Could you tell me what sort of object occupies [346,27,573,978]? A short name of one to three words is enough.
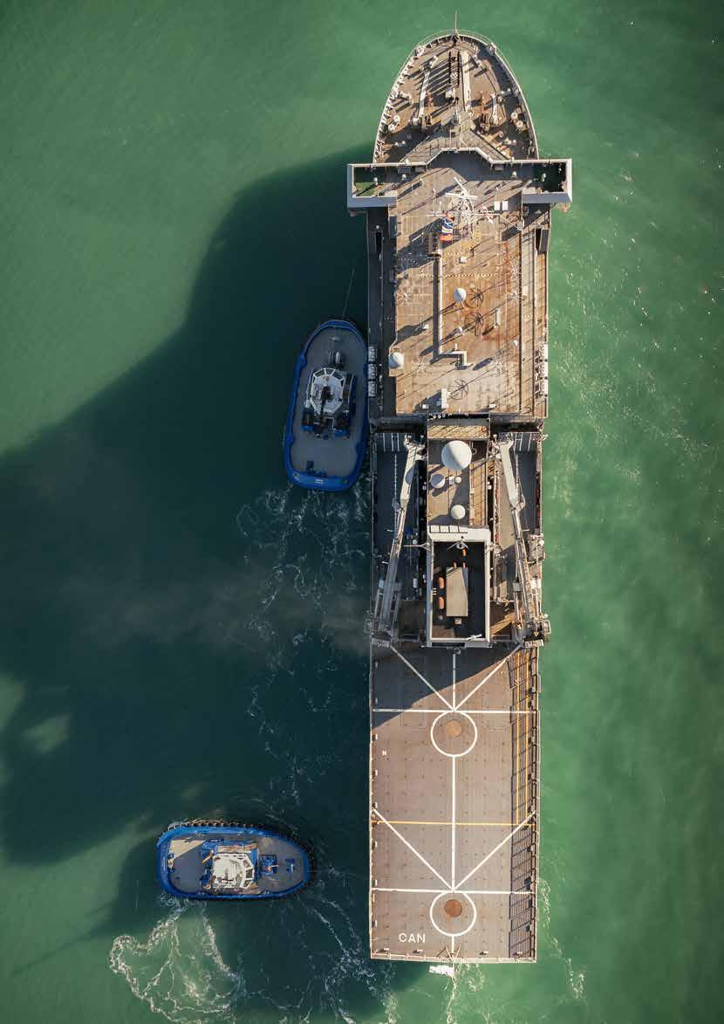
ship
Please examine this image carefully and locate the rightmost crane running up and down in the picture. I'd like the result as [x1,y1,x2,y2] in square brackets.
[489,430,557,650]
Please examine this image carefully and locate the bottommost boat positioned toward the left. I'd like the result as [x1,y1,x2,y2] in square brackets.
[158,815,314,901]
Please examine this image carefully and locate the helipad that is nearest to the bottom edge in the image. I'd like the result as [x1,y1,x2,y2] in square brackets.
[372,809,534,952]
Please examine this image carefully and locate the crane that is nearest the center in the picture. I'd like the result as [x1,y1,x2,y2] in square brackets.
[368,430,428,651]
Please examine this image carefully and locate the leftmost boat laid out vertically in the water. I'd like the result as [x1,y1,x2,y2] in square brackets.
[283,320,367,490]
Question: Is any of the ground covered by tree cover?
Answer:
No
